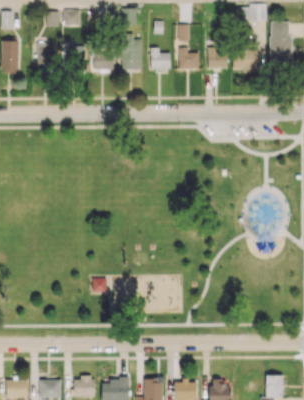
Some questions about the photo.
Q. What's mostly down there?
grass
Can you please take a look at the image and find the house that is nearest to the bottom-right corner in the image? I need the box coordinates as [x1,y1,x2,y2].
[266,375,284,400]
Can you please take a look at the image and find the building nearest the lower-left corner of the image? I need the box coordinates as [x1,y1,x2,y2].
[6,380,28,400]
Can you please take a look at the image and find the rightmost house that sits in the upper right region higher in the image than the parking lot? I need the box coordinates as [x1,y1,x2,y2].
[270,22,290,58]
